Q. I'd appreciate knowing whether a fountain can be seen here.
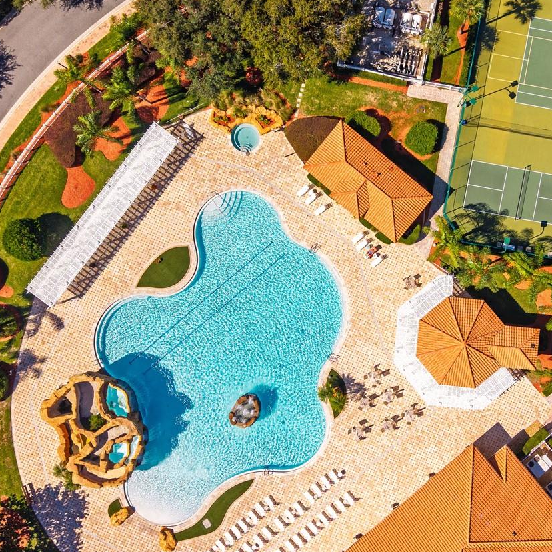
Yes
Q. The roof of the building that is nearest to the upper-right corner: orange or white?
orange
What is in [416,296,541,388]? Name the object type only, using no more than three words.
building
